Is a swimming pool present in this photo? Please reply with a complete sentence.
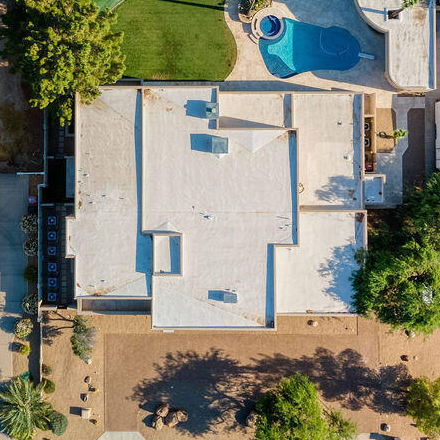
Yes, the picture does show a swimming pool.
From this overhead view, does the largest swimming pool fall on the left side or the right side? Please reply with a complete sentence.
The largest swimming pool sits on the right side.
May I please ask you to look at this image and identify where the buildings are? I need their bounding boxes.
[351,0,436,91]
[65,86,385,334]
